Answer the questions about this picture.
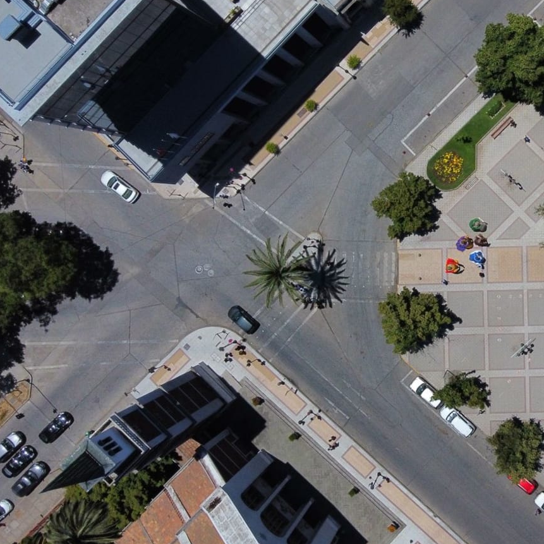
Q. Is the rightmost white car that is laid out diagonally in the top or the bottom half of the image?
bottom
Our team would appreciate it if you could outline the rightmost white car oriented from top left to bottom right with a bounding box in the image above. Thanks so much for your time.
[439,407,479,441]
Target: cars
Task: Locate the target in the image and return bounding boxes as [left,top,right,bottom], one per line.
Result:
[8,460,53,498]
[0,498,17,520]
[408,375,441,410]
[226,302,263,337]
[0,444,40,478]
[439,407,479,441]
[0,428,31,463]
[100,169,142,205]
[500,463,536,498]
[37,410,76,444]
